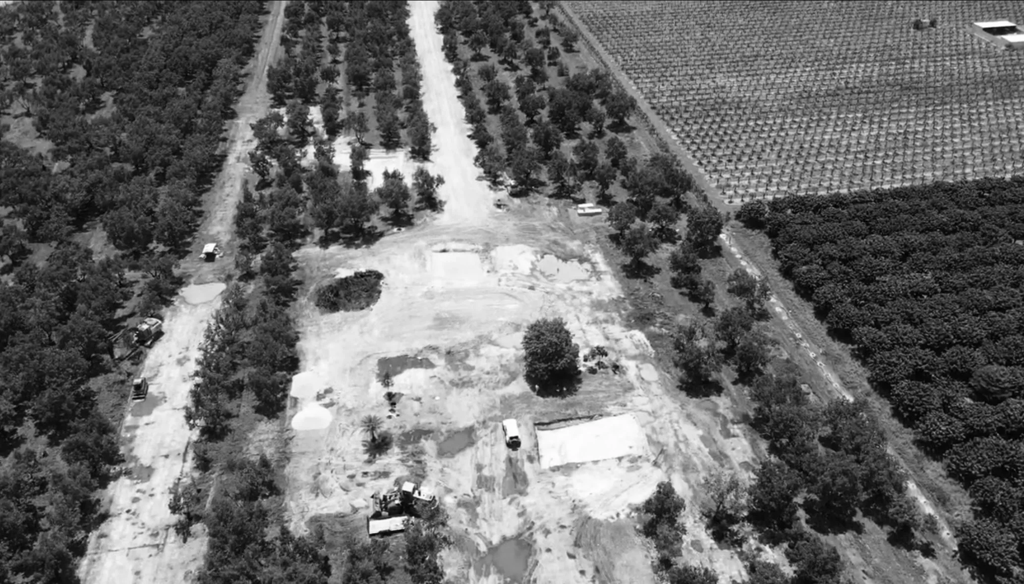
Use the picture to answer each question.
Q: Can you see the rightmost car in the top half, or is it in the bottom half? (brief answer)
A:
bottom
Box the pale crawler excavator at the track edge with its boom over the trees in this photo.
[110,320,171,361]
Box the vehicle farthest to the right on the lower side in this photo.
[502,420,525,451]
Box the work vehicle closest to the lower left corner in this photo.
[130,379,150,407]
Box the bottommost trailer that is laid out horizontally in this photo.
[368,516,416,538]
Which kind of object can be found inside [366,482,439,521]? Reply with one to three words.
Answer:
work vehicle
